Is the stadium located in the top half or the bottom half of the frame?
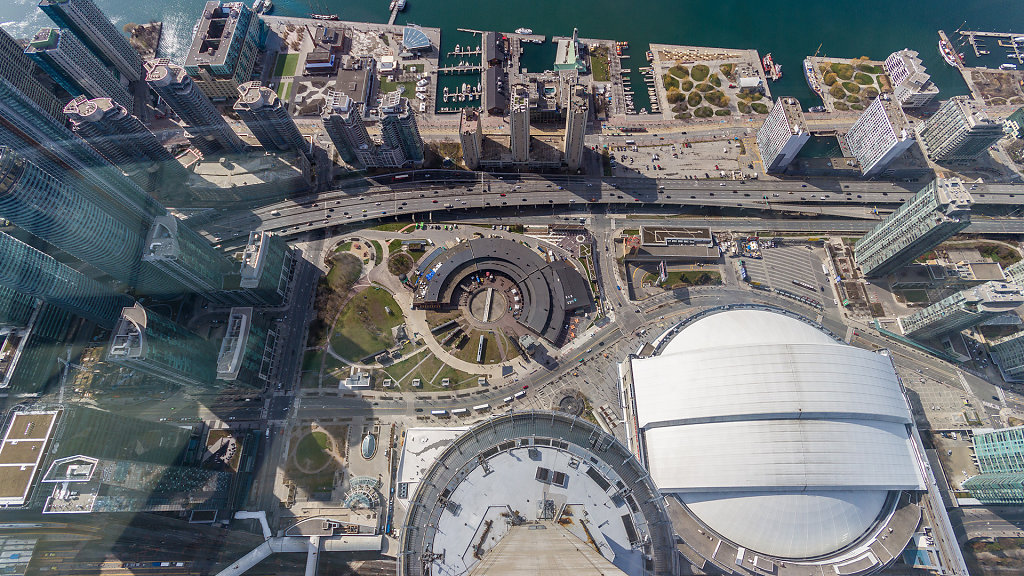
bottom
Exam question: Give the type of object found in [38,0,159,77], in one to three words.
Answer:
building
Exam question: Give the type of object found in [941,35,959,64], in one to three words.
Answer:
ship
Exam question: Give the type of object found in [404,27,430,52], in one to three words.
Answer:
building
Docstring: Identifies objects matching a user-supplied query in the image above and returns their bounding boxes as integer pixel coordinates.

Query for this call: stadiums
[623,303,969,576]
